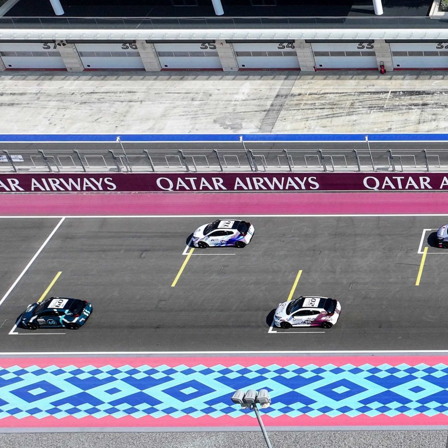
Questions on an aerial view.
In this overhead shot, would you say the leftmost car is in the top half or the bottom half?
bottom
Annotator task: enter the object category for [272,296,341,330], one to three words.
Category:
car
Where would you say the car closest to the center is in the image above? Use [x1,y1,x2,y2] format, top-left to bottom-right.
[191,218,254,249]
